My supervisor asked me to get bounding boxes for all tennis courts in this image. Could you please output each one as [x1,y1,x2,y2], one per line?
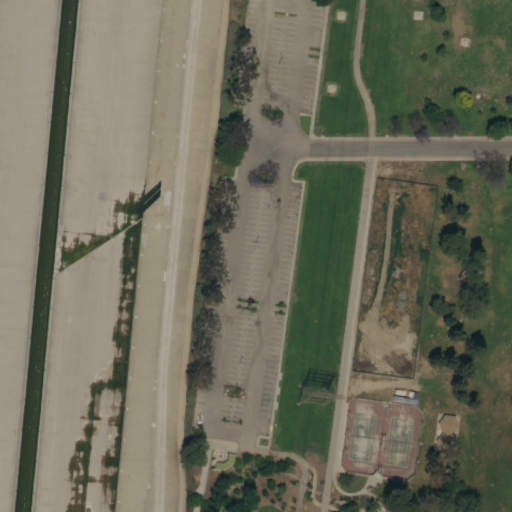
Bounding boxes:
[342,399,388,474]
[380,404,424,478]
